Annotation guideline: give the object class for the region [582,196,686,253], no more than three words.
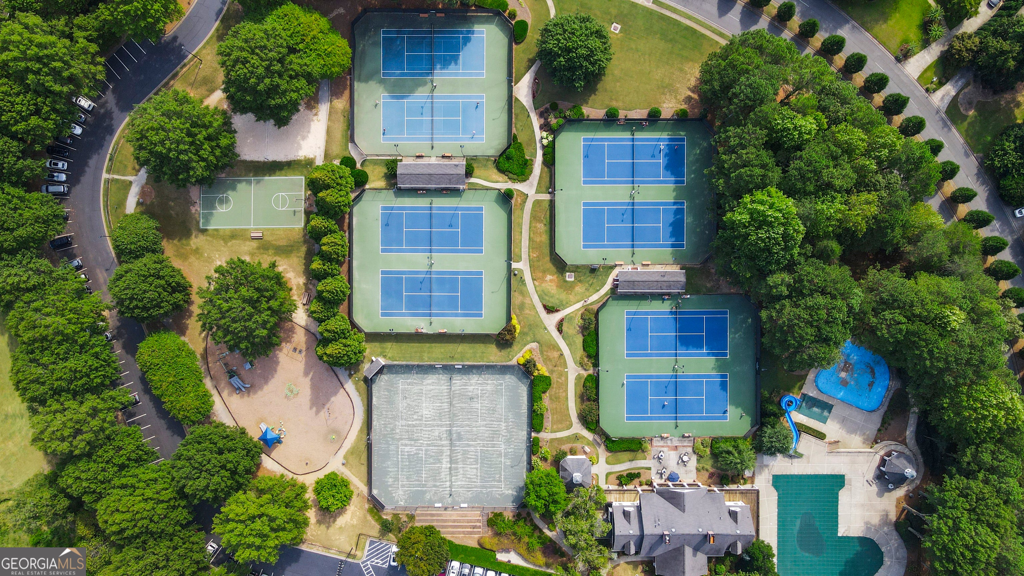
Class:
tennis court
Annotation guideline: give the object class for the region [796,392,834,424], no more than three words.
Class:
swimming pool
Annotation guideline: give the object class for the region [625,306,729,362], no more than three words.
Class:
tennis court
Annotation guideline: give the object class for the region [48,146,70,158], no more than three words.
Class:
vehicle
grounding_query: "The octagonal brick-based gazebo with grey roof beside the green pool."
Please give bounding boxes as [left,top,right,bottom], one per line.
[878,449,916,484]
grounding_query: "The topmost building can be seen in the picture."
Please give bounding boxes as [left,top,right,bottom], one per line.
[396,159,467,190]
